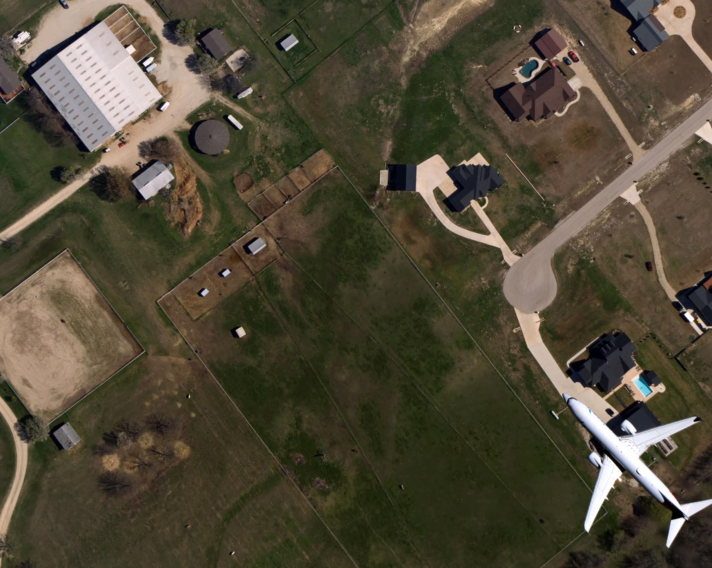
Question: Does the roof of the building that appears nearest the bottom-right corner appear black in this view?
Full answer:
Yes, black is the color of the roof of the building that appears nearest the bottom-right corner.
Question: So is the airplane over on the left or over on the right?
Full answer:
The airplane is on the right side of the image.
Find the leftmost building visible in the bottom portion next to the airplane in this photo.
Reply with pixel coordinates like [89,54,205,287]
[580,330,640,392]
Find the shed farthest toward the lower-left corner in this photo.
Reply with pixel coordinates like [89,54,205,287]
[55,422,80,450]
